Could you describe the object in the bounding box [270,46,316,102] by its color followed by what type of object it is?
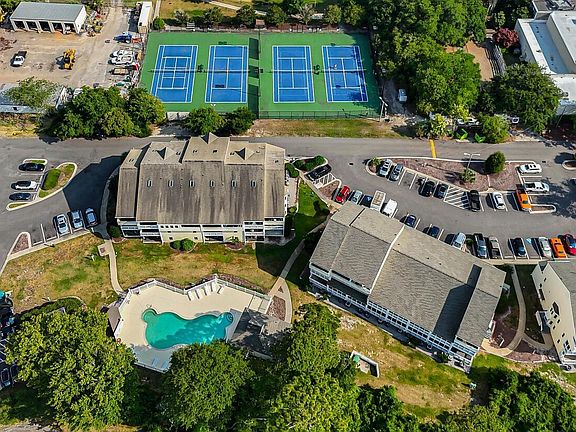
blue tennis court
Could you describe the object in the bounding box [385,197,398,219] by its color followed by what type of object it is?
white vehicle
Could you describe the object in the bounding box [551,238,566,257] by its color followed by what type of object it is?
orange car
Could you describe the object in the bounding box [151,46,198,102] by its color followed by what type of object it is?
blue tennis court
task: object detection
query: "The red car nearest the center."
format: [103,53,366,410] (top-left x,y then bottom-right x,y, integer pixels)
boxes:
[337,186,349,203]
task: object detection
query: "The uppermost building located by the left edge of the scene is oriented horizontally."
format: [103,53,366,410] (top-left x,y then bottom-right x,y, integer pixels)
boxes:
[7,0,85,34]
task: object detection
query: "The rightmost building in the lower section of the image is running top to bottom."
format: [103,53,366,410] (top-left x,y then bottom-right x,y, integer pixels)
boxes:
[532,260,576,364]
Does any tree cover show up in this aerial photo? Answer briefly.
Yes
